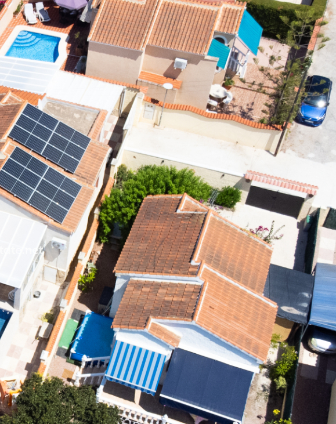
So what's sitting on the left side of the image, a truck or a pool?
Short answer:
pool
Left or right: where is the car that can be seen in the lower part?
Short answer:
right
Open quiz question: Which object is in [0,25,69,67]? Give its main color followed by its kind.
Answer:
blue swimming pool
